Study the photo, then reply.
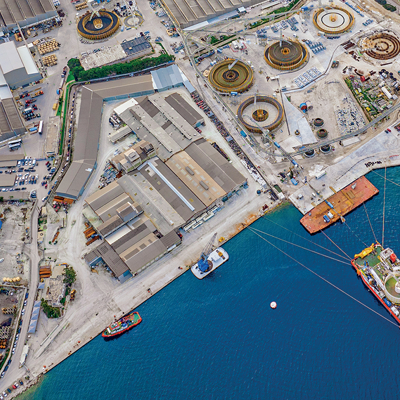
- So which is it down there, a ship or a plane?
ship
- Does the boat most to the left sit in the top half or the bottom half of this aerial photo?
bottom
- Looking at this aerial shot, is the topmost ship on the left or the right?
right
